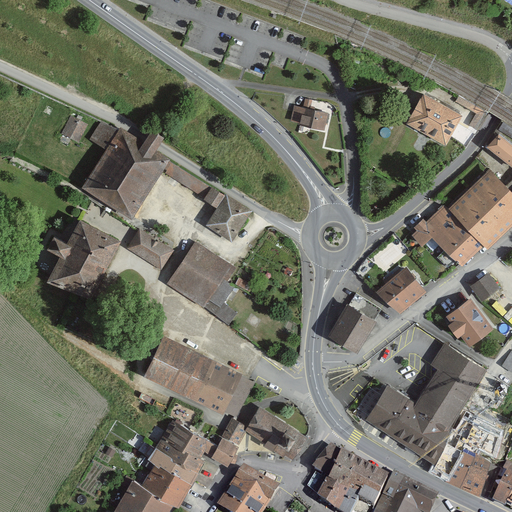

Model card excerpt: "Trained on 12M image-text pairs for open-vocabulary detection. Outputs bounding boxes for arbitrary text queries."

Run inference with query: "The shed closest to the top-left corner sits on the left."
[60,115,87,146]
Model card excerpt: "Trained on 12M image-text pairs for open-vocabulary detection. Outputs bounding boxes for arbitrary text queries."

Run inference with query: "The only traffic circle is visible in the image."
[300,204,366,270]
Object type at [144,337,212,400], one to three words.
barn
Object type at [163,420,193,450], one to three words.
building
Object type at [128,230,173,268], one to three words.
shed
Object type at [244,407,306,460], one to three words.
house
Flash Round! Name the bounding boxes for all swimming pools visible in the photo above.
[380,126,392,138]
[497,322,510,335]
